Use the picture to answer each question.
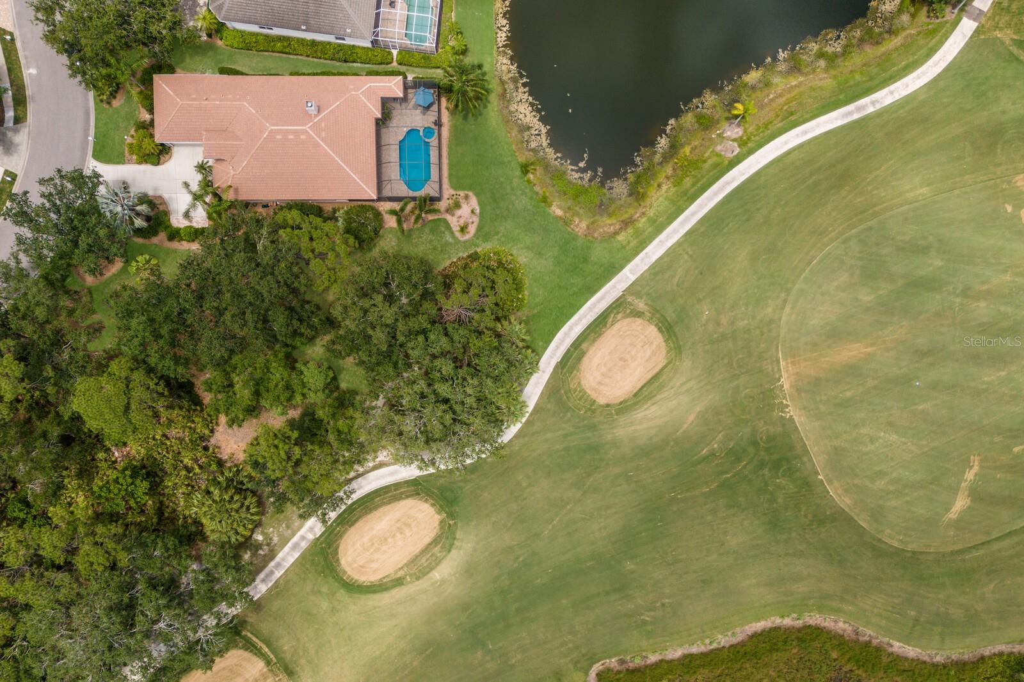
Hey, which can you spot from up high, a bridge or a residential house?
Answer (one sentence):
This aerial view contains a residential house.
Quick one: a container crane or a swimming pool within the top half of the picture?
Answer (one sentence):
You can see a swimming pool within the top half of the picture.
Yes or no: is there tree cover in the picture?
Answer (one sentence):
Yes, some tree cover is visible.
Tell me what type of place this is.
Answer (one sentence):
What you see here is a golf course.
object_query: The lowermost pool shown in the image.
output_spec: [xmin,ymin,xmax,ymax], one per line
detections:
[396,125,437,194]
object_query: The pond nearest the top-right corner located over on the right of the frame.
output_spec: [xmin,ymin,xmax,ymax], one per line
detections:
[496,0,884,189]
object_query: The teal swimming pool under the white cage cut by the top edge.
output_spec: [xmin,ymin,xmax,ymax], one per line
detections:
[403,0,435,44]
